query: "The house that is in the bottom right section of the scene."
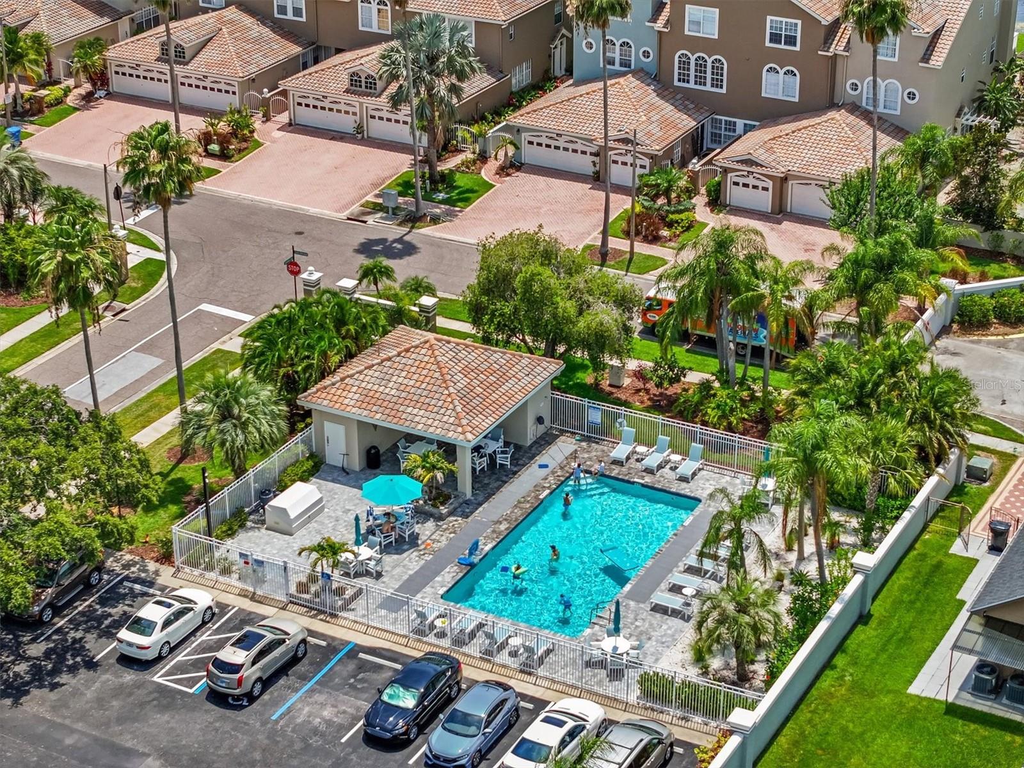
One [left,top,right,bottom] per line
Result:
[965,517,1024,625]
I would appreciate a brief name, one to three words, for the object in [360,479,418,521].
umbrella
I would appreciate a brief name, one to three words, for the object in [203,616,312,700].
car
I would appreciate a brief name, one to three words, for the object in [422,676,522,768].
car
